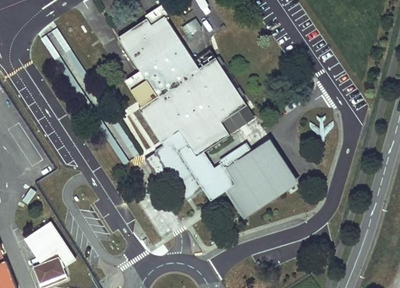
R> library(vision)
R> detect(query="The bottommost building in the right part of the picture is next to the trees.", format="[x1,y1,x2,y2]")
[218,139,298,218]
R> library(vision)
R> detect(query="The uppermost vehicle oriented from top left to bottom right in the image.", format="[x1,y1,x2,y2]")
[197,0,210,15]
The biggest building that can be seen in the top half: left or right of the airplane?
to the left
